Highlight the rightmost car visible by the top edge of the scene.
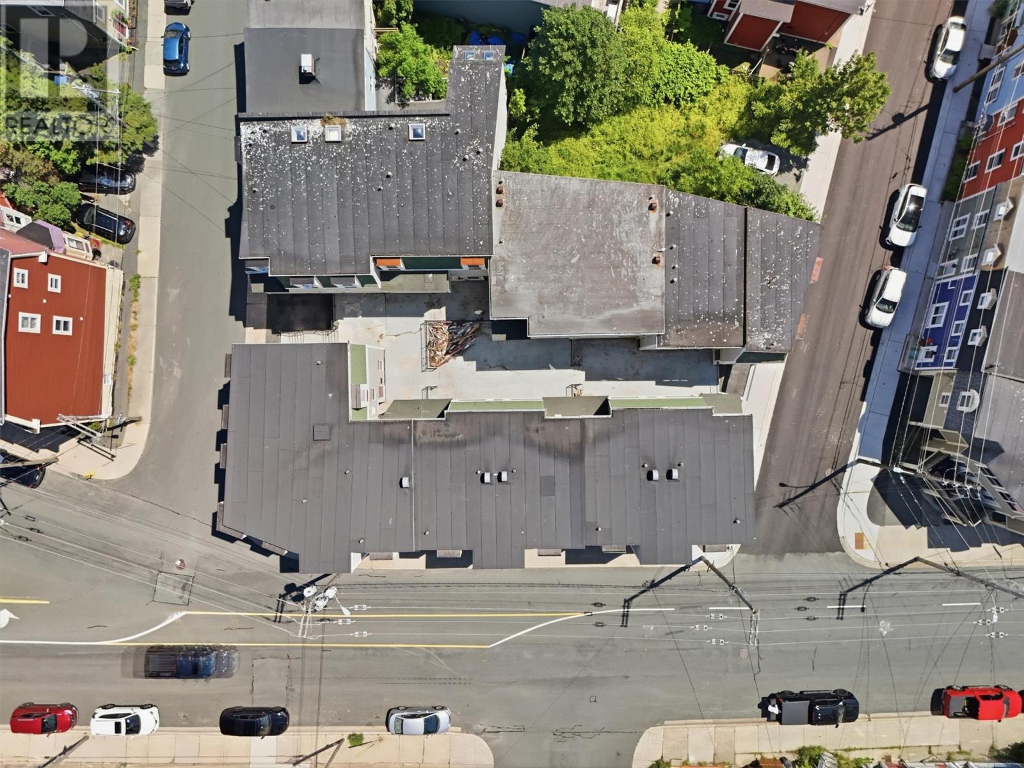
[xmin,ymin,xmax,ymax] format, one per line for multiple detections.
[924,13,970,86]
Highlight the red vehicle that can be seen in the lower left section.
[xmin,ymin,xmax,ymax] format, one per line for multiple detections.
[7,701,81,738]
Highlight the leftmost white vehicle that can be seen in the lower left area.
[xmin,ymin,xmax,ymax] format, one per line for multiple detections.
[88,703,162,741]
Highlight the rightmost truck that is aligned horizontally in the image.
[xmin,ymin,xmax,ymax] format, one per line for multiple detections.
[938,685,1021,725]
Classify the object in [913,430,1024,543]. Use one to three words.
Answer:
house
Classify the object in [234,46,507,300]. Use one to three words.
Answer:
building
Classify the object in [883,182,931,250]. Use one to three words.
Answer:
car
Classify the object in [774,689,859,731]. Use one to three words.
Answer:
truck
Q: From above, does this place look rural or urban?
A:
urban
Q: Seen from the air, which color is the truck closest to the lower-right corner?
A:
red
